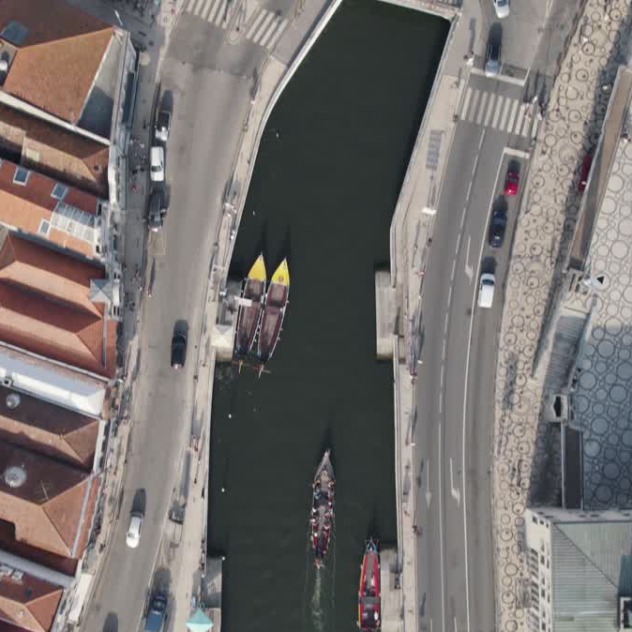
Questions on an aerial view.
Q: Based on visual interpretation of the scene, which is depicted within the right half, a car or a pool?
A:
car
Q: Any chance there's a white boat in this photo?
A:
No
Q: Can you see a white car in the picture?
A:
Yes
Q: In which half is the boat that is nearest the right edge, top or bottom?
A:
bottom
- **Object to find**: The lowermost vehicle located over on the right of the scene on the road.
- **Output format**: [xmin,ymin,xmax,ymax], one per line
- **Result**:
[477,272,496,308]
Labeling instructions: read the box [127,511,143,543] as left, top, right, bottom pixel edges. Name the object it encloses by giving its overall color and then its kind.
white car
